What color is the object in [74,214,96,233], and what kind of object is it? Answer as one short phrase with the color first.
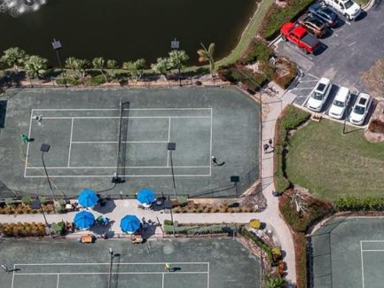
blue umbrella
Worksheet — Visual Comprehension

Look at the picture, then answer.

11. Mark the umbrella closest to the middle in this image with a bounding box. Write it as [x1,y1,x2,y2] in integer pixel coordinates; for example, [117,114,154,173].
[137,192,156,209]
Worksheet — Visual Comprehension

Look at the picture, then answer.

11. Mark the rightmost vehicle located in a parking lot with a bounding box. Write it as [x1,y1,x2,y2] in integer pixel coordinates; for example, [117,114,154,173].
[347,92,371,127]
